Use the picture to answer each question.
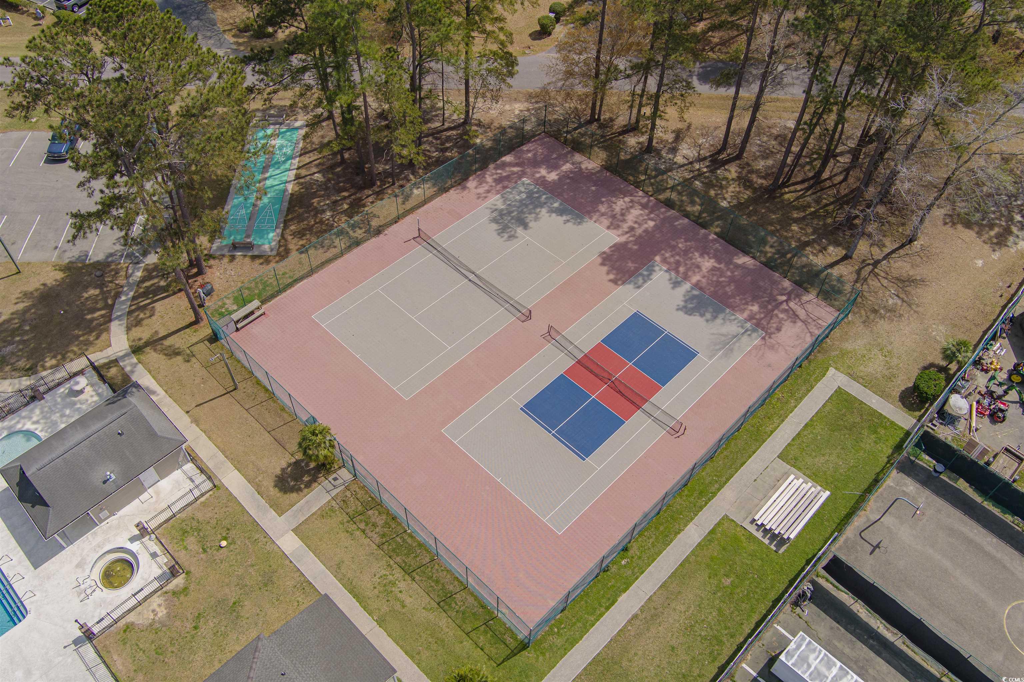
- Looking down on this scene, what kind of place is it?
sports ground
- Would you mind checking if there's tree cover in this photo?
Yes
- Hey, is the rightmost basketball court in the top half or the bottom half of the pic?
bottom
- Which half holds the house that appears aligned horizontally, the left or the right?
left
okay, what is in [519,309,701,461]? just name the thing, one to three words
sports court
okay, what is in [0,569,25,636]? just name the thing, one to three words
swimming pool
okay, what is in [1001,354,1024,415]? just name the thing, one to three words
work vehicle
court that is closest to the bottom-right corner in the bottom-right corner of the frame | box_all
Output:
[834,459,1024,682]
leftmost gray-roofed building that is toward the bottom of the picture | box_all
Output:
[0,379,193,556]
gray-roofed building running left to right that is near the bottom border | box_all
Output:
[203,593,398,682]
